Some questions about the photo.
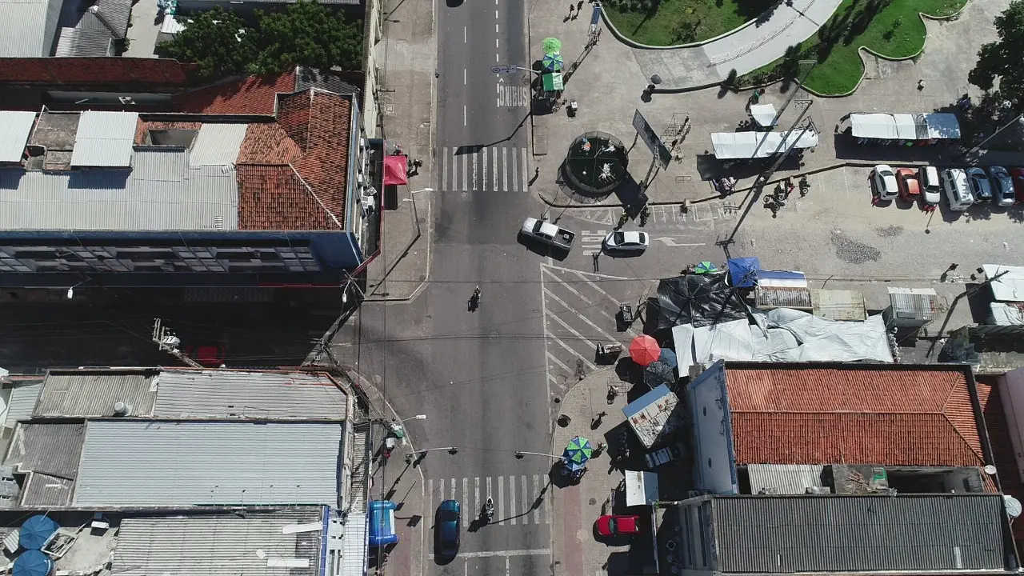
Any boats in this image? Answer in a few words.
No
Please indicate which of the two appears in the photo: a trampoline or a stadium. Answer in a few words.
trampoline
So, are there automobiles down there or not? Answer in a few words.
Yes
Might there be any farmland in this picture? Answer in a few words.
No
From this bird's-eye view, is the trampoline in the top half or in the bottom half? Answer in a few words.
top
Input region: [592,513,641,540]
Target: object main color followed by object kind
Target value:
red car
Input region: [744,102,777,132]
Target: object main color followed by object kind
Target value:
white tent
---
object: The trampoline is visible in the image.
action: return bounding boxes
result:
[558,132,630,203]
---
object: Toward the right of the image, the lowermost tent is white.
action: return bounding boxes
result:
[621,470,660,508]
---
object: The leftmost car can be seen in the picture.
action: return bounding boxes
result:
[185,343,232,367]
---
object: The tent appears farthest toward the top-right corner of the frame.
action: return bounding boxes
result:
[842,112,961,149]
